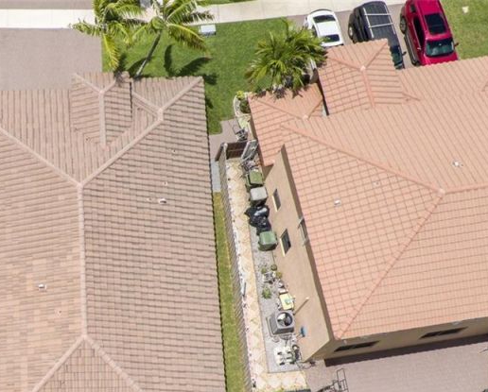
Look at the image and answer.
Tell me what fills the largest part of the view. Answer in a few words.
buildings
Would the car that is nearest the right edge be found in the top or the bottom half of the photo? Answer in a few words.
top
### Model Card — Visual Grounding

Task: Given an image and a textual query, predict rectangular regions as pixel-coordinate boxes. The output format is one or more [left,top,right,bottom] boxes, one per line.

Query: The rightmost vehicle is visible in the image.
[404,0,466,64]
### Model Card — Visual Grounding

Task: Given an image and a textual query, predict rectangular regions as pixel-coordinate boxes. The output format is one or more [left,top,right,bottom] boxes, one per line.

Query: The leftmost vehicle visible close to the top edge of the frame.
[307,0,362,51]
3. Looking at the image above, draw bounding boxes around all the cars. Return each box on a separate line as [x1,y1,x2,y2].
[307,0,362,51]
[357,0,421,68]
[404,0,466,64]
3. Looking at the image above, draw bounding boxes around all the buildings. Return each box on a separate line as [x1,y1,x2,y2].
[0,70,227,392]
[246,37,488,358]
